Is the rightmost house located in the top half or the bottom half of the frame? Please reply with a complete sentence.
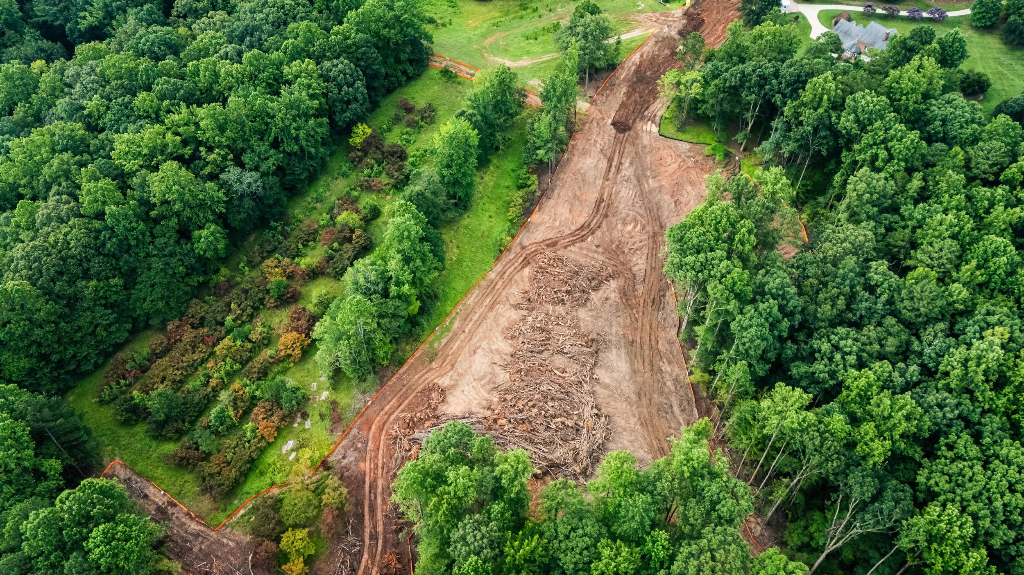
The rightmost house sits in the top half of the picture.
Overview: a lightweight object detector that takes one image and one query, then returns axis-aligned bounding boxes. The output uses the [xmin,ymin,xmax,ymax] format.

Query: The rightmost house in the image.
[834,18,905,61]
